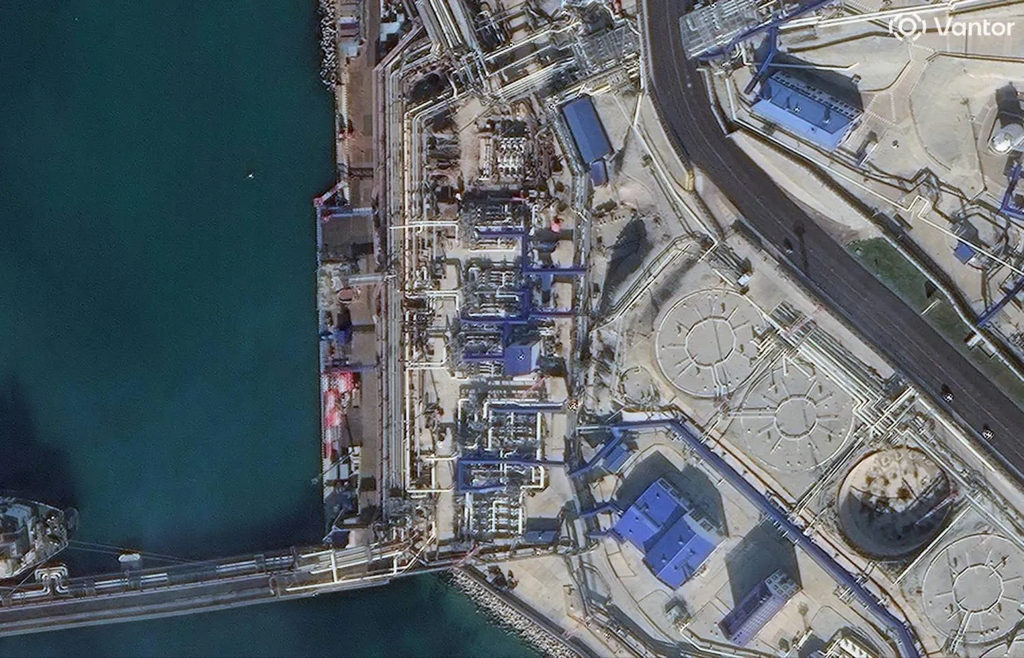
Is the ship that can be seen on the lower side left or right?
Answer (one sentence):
It is on the left.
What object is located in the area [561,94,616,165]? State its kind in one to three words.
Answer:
building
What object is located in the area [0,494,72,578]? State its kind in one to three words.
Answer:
ship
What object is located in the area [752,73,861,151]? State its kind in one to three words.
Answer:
building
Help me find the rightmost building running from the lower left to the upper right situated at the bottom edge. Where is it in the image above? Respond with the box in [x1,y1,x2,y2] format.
[721,571,794,645]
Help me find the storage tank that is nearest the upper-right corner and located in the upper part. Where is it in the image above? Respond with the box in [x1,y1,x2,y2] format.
[989,121,1024,156]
